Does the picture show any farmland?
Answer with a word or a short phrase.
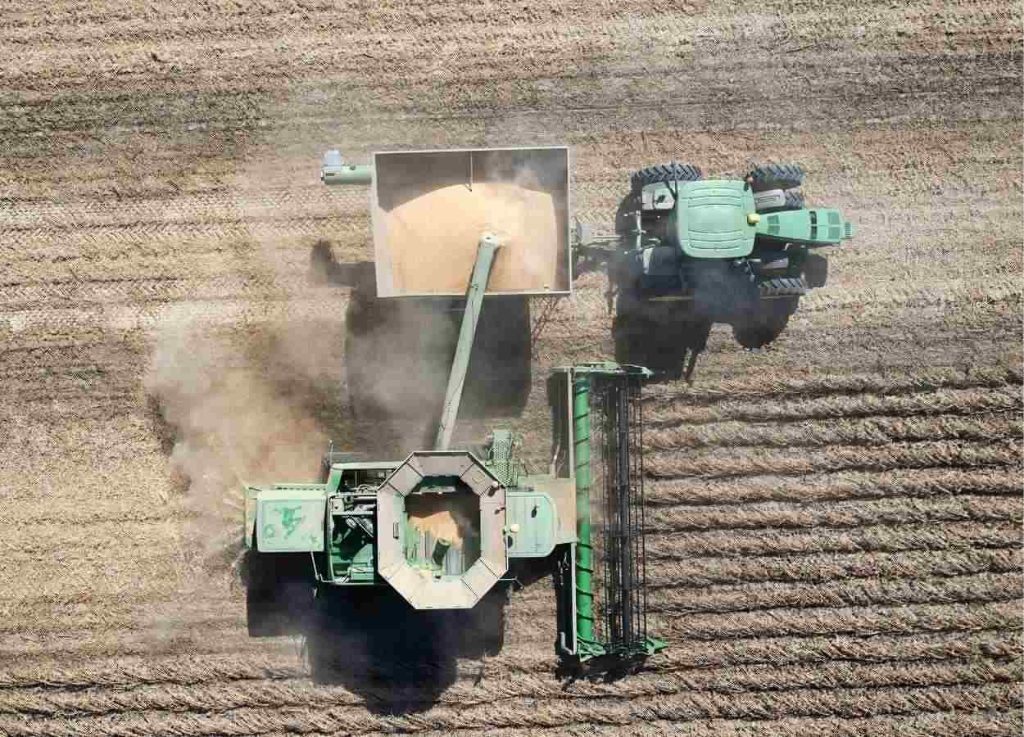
Yes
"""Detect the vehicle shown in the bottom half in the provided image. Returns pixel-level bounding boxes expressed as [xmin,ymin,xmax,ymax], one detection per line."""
[249,232,660,658]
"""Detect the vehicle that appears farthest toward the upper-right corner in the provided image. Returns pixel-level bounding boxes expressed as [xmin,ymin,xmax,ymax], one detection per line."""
[616,157,855,305]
